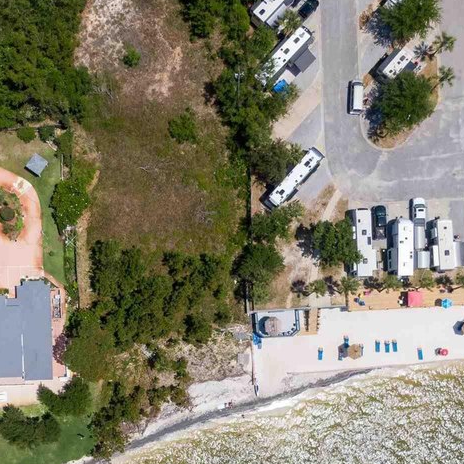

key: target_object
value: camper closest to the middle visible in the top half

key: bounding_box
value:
[262,149,325,213]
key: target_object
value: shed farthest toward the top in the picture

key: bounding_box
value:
[23,151,46,176]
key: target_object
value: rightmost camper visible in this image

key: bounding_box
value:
[426,216,463,274]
